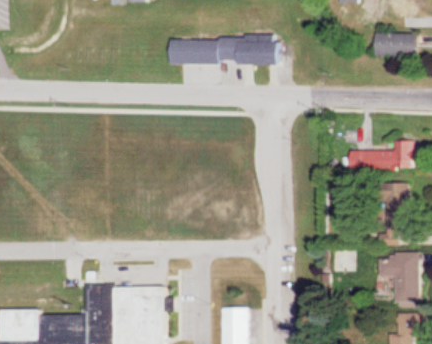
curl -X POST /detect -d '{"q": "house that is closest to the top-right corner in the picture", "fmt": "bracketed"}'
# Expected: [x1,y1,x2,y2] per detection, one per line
[374,33,422,58]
